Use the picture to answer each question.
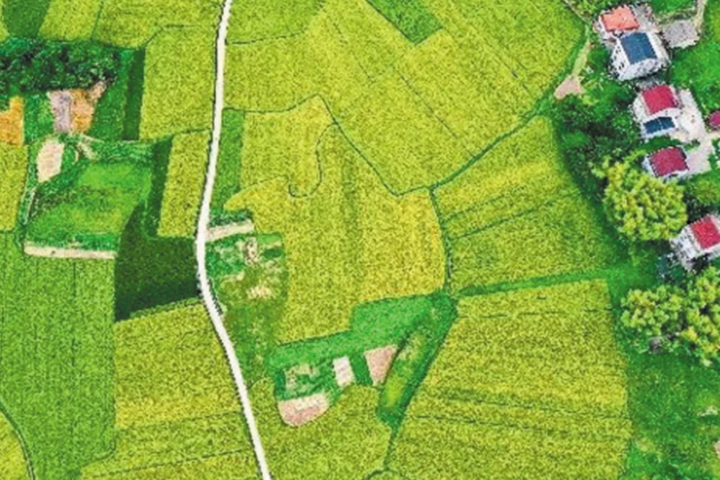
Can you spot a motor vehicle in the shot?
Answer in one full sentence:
No, there is no motor vehicle in the image.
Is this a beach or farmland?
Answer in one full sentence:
It's farmland.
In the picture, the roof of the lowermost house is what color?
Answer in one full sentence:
The roof of the lowermost house is red.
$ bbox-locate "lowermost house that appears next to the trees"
[684,216,720,262]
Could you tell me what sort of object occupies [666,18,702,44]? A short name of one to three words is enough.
shed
